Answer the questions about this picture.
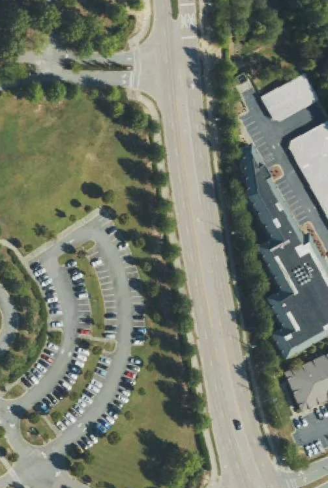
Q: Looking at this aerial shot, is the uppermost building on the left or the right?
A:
right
